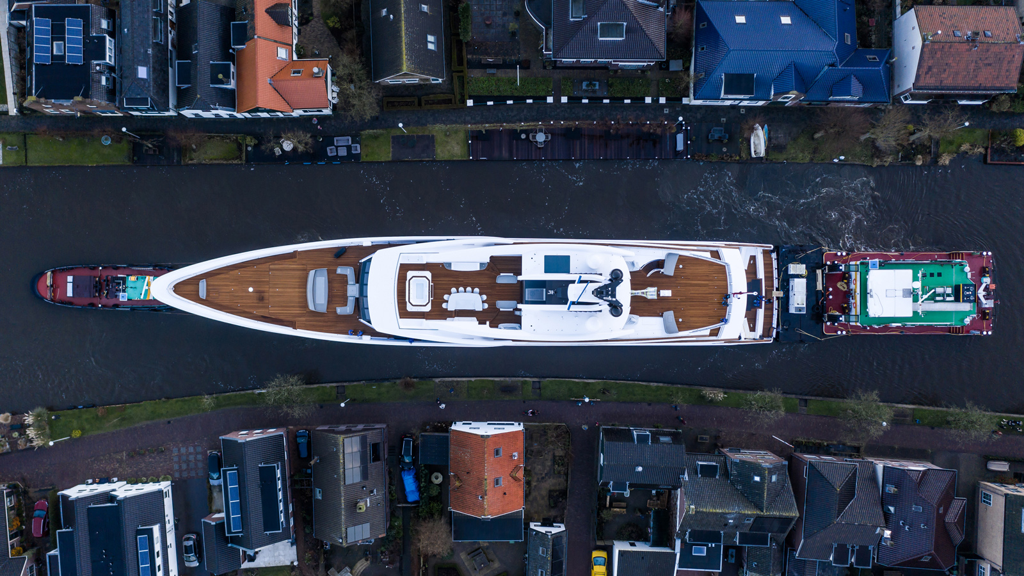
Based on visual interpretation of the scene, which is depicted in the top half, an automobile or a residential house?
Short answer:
residential house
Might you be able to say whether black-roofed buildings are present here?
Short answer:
Yes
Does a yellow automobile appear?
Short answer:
Yes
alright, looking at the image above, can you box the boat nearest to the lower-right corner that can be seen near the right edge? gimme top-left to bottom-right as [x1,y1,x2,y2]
[821,251,1000,335]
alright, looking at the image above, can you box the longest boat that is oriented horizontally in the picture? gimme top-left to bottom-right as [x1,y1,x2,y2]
[150,236,778,346]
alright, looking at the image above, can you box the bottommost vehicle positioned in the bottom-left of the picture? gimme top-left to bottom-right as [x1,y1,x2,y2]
[179,534,199,570]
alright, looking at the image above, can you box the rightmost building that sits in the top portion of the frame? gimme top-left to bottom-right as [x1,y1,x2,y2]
[894,6,1024,101]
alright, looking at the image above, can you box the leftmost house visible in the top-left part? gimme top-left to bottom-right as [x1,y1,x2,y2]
[8,0,135,114]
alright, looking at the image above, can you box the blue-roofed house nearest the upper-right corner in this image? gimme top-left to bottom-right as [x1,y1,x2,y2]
[687,0,893,110]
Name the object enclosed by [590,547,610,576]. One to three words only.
car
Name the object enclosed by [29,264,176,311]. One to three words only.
boat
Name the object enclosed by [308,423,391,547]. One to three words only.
house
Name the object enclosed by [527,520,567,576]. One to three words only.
house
